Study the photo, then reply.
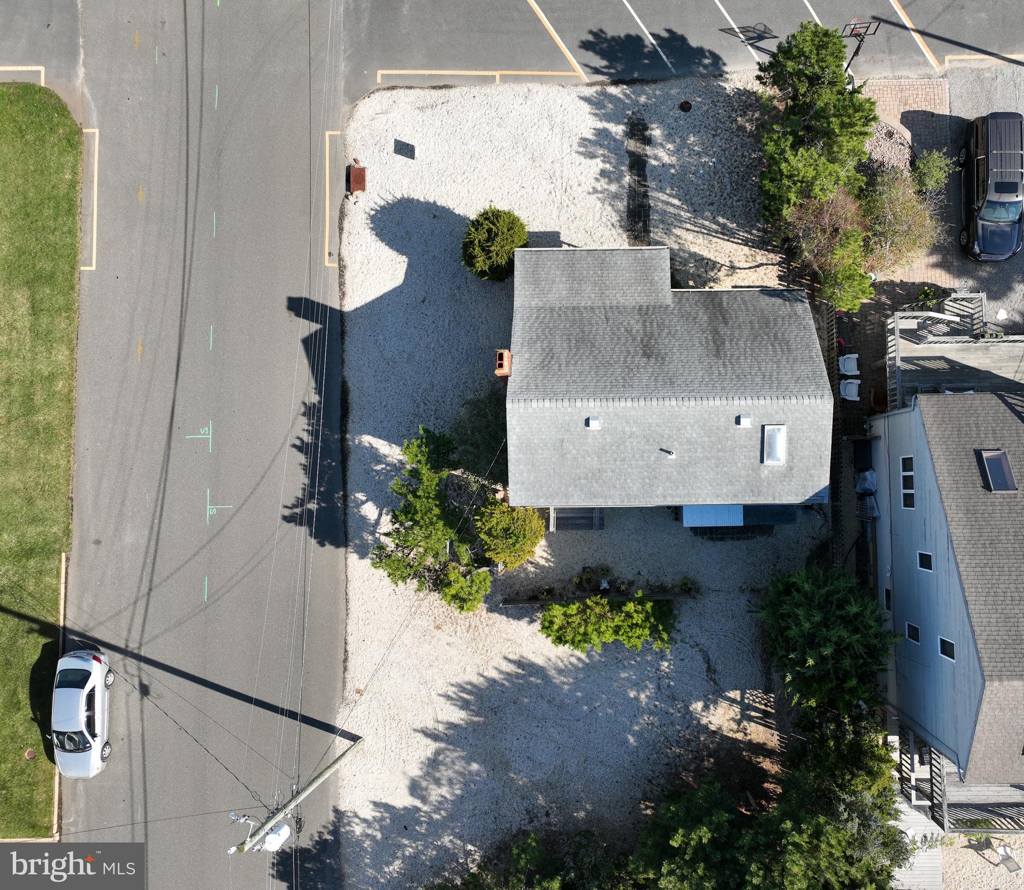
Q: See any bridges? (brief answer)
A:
No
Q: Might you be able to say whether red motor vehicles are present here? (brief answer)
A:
No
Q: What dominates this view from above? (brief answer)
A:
paved ground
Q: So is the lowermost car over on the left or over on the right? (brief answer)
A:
left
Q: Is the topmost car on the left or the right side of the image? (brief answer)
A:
right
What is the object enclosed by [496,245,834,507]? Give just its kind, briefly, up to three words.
house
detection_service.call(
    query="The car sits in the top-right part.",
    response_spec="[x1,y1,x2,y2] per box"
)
[960,114,1024,267]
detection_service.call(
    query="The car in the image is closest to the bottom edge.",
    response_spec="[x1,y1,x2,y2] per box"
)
[43,647,117,777]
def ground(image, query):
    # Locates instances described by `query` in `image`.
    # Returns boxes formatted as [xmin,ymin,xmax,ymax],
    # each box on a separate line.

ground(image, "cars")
[43,647,117,777]
[960,114,1024,267]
